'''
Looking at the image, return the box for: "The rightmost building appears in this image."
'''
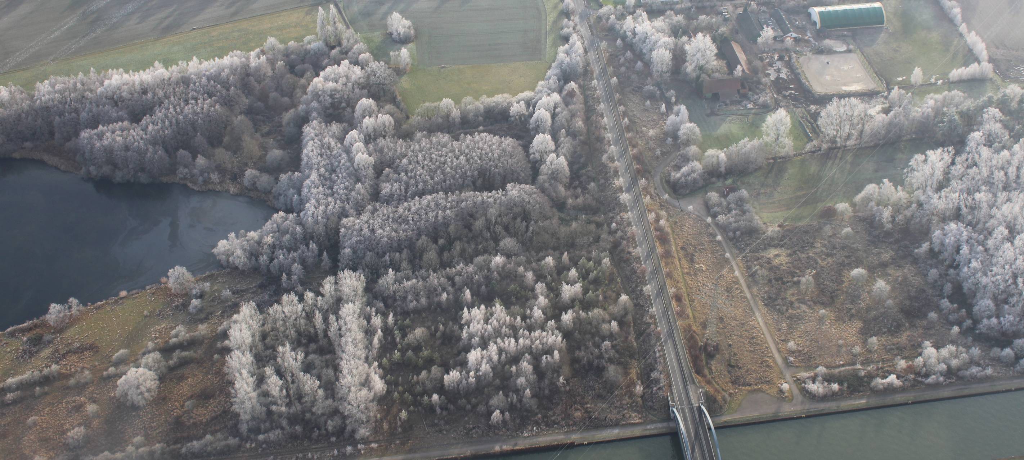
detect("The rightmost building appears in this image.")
[809,2,885,29]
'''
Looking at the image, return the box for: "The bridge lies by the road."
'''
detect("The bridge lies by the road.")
[667,389,724,460]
